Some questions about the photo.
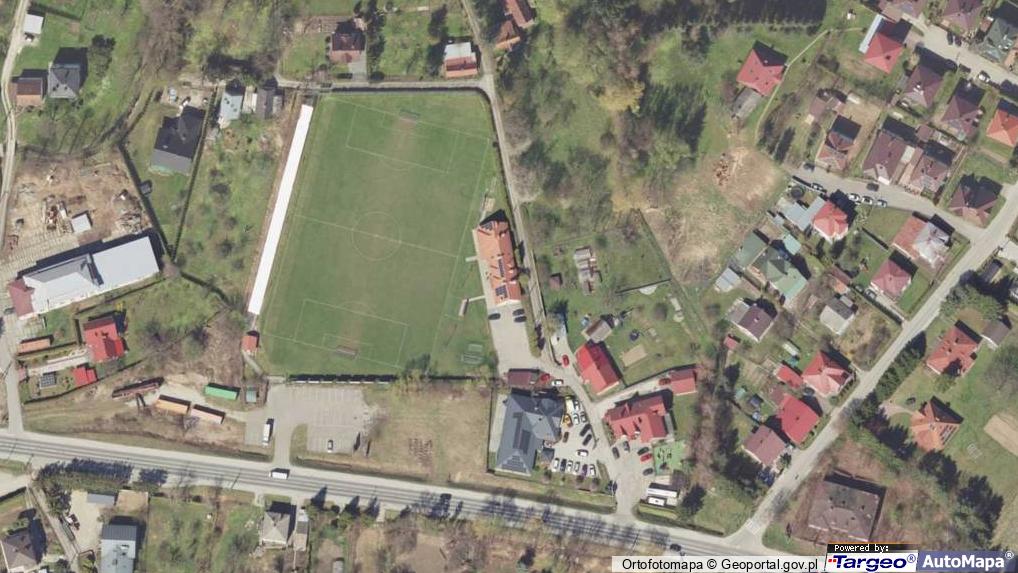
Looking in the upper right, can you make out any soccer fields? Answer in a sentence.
No, I can find no soccer field in the upper right.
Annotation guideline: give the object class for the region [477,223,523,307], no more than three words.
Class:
building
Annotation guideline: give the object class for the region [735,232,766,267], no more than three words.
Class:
shed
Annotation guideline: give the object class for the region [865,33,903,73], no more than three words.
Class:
house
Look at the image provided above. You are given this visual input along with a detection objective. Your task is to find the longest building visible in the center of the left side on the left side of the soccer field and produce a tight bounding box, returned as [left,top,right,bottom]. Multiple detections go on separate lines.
[8,238,158,317]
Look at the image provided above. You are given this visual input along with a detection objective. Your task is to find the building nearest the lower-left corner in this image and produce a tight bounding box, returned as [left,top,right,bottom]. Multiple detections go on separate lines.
[2,531,40,571]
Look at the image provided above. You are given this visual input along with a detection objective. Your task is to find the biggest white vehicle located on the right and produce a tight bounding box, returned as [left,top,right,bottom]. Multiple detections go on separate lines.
[646,487,678,500]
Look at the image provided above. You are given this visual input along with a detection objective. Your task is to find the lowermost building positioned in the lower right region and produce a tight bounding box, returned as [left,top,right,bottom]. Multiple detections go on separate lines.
[810,478,880,543]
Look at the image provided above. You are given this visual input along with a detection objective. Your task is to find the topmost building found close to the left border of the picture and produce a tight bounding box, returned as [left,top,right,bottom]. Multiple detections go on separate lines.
[24,14,44,35]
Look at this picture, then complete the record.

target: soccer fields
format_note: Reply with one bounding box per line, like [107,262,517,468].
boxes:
[257,93,495,383]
